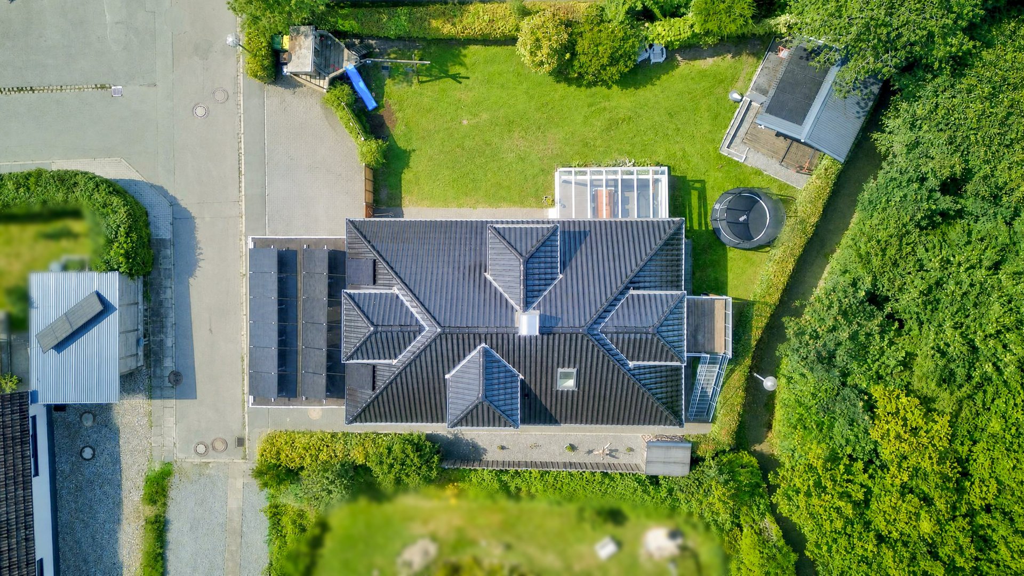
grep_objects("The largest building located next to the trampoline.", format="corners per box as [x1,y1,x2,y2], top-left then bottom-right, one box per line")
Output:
[341,216,690,430]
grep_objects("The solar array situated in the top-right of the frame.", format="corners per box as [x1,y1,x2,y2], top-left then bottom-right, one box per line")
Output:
[769,48,826,127]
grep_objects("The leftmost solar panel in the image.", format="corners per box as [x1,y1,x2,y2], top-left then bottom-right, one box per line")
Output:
[36,291,108,355]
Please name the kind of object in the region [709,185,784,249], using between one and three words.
trampoline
